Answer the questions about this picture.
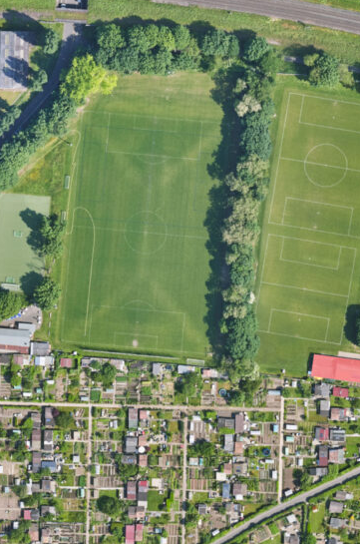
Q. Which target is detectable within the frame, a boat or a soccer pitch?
soccer pitch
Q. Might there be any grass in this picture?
Yes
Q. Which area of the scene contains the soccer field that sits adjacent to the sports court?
center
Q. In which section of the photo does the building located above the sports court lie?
top left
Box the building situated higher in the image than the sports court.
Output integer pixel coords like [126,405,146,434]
[0,30,28,89]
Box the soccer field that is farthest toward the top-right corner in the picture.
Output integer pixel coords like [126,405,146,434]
[267,91,360,239]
